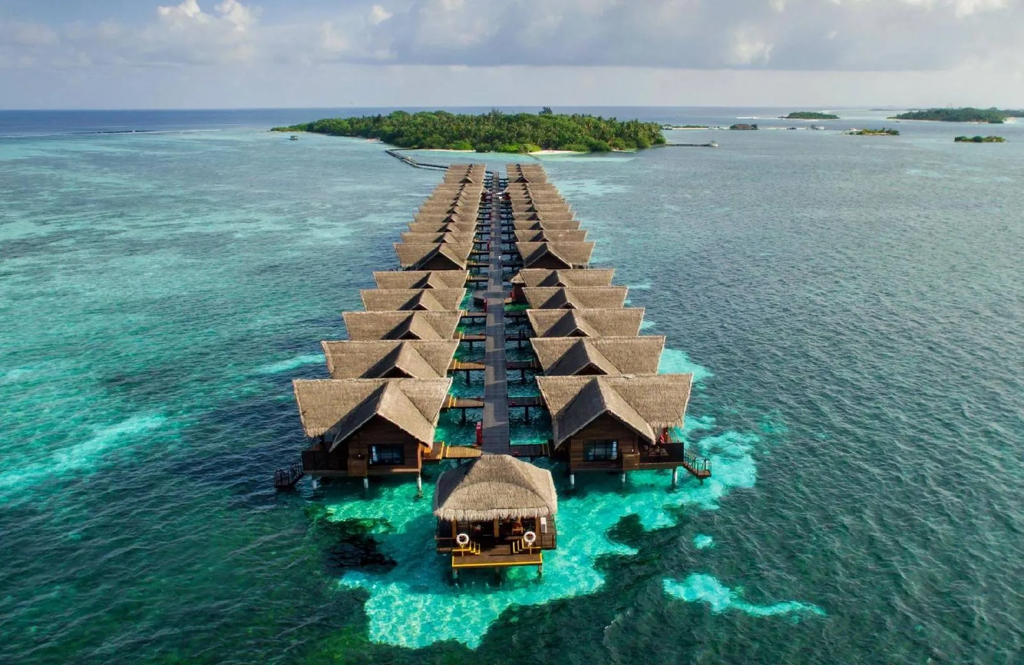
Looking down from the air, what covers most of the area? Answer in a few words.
water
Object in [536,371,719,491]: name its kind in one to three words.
house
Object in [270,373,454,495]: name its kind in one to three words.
house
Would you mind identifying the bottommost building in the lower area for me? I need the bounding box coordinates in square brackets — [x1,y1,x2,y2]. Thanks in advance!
[435,453,557,587]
